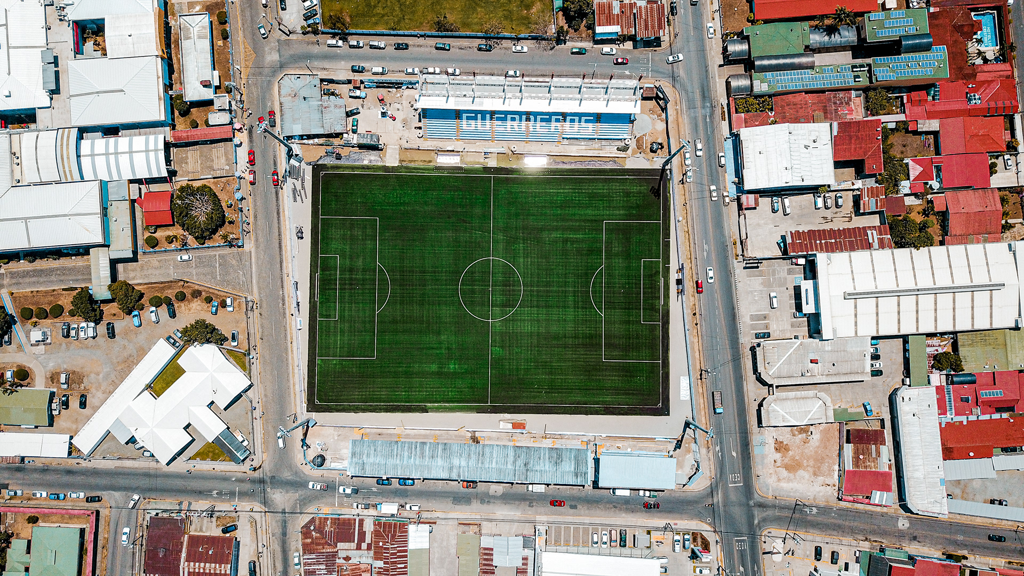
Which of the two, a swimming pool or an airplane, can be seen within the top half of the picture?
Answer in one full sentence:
What appears within the top half of the picture is a swimming pool.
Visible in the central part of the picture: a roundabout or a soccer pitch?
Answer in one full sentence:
There is a soccer pitch in the central part of the picture.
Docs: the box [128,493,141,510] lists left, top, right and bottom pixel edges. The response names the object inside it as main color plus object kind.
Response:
white vehicle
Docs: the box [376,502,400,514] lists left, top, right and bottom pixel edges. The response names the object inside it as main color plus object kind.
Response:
white vehicle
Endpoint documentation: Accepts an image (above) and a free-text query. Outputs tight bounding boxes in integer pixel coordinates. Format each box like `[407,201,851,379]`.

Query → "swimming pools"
[971,11,996,50]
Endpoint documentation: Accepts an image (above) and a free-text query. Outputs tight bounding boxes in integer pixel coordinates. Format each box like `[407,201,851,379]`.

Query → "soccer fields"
[307,164,670,416]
